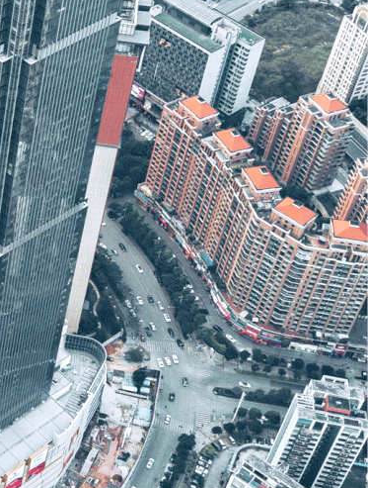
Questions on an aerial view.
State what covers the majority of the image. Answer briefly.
buildings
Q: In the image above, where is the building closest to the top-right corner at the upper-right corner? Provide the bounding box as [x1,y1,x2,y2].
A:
[322,9,368,116]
